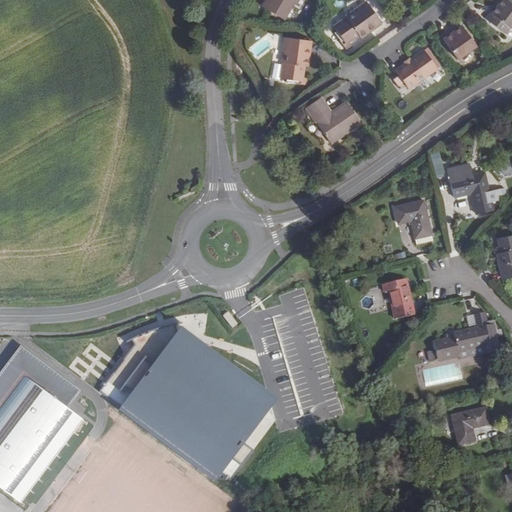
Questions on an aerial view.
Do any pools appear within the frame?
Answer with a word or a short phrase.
Yes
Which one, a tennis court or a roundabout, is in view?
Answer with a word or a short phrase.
roundabout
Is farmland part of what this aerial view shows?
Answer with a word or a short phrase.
Yes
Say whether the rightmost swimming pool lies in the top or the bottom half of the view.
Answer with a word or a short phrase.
bottom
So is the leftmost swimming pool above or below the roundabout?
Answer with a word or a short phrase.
above it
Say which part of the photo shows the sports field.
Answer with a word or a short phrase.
bottom left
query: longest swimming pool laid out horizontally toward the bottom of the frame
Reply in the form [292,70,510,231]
[422,361,464,388]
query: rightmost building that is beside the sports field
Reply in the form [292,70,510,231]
[101,311,276,483]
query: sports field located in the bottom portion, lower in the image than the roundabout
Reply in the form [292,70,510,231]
[44,404,233,512]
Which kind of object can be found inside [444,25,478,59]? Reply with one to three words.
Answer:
house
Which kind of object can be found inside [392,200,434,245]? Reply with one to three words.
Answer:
house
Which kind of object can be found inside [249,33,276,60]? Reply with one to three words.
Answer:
swimming pool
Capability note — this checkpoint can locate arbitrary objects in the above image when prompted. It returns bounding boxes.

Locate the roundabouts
[164,198,274,300]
